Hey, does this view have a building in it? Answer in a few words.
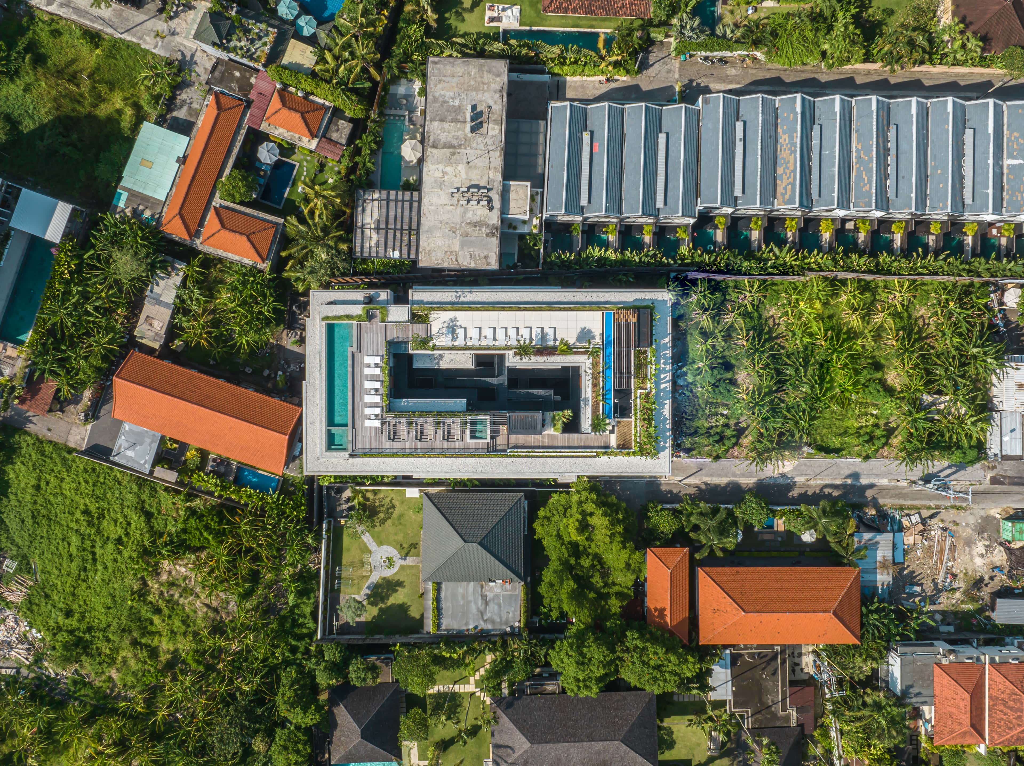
Yes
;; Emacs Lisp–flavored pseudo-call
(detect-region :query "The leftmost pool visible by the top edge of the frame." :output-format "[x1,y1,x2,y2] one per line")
[294,0,346,24]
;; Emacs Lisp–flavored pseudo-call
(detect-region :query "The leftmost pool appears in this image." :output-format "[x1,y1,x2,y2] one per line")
[0,233,57,347]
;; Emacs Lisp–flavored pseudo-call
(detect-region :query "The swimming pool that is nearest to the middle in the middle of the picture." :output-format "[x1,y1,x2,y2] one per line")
[468,417,489,442]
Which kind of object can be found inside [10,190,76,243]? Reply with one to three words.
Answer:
building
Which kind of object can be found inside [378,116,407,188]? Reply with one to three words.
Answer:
swimming pool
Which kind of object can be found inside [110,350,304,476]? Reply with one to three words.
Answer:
house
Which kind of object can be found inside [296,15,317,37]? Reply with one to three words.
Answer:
umbrella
